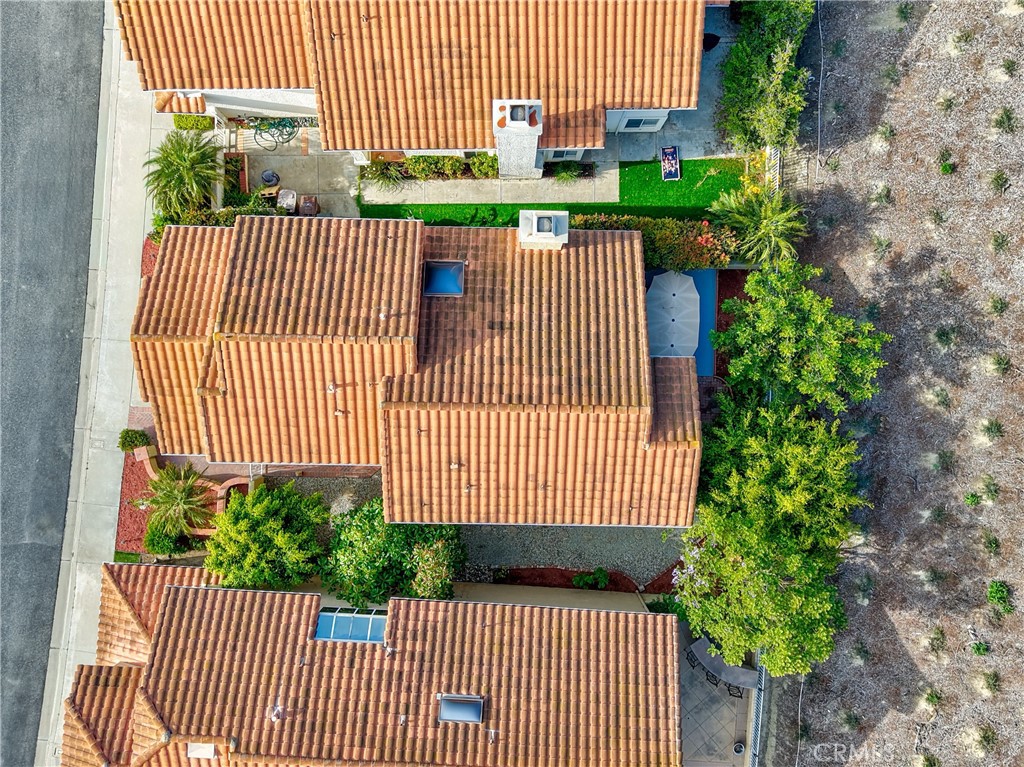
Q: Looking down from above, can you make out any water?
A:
No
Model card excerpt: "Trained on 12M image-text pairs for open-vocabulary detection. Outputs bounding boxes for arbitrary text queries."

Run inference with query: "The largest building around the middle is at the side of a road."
[129,208,704,531]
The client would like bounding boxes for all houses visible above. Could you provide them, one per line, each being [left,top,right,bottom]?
[112,0,735,179]
[60,558,685,767]
[129,208,704,531]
